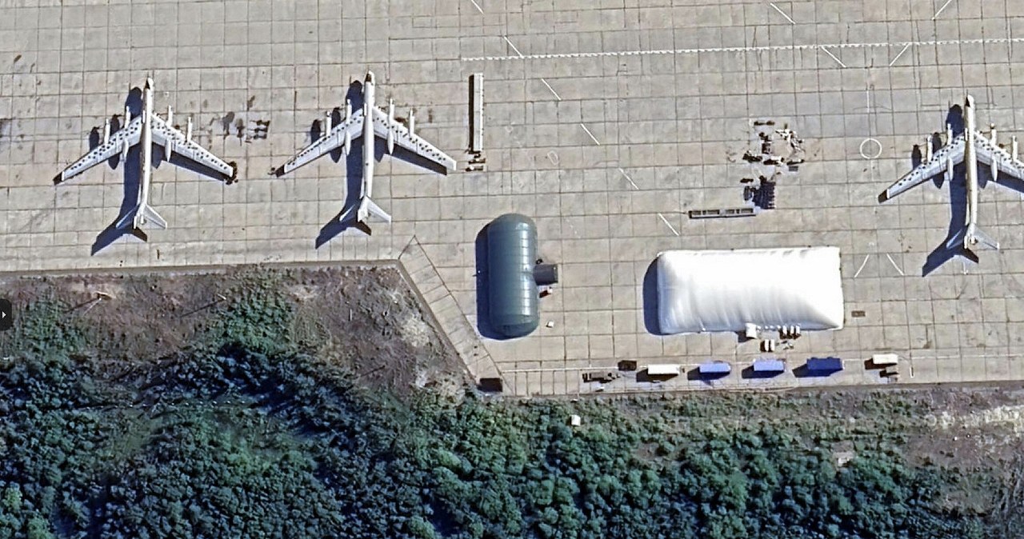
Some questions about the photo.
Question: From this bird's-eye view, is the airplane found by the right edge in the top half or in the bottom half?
top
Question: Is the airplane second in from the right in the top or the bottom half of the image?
top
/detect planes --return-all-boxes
[65,76,235,229]
[889,94,1024,247]
[286,71,457,222]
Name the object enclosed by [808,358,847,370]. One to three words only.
vehicle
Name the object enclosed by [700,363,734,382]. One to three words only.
vehicle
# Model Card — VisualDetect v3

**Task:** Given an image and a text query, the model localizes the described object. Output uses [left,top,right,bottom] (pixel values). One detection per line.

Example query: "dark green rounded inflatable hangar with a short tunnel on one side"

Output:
[479,214,557,337]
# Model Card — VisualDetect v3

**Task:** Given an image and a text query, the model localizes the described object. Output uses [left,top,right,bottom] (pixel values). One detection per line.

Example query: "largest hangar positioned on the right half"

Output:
[658,246,846,339]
